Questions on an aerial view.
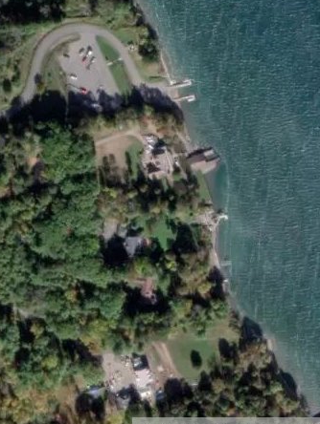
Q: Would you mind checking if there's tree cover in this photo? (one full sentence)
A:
Yes, tree cover shows up in the scene.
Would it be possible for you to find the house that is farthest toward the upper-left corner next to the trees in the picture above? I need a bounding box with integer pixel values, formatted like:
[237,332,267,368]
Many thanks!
[146,144,173,177]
